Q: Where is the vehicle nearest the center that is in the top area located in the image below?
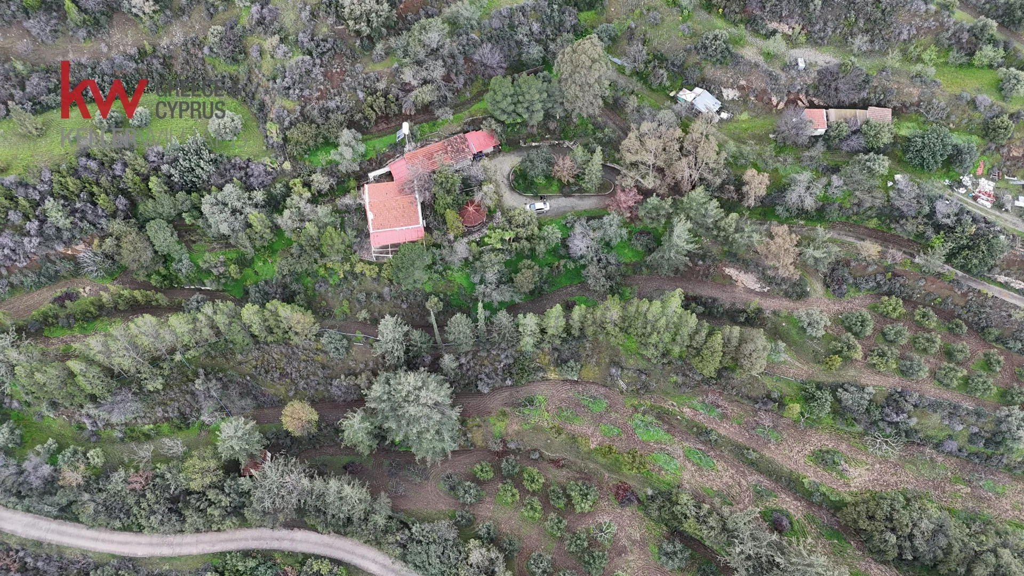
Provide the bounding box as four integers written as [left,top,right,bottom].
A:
[527,199,550,211]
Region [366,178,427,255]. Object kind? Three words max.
house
